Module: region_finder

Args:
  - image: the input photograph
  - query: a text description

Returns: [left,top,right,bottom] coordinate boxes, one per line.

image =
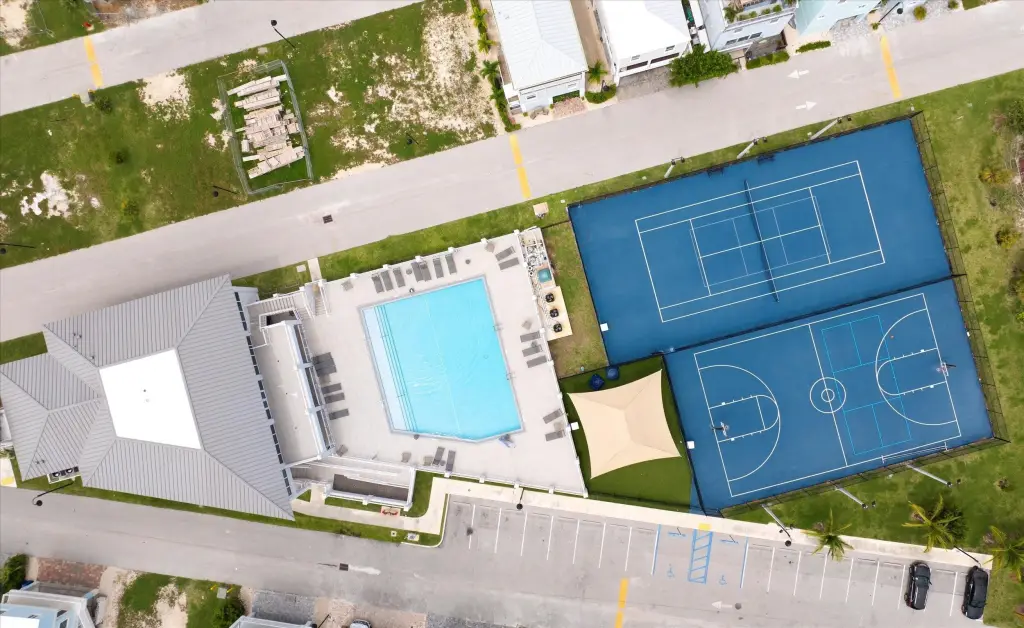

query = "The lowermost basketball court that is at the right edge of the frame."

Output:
[666,279,993,515]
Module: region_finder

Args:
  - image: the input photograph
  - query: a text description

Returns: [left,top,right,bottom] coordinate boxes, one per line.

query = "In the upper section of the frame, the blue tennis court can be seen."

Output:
[568,118,951,366]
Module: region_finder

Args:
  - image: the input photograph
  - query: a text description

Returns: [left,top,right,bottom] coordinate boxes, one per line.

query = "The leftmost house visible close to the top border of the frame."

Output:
[492,0,588,117]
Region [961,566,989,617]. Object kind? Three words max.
car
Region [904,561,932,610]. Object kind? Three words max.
car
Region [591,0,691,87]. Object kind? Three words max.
house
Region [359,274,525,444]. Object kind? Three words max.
swimming pool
